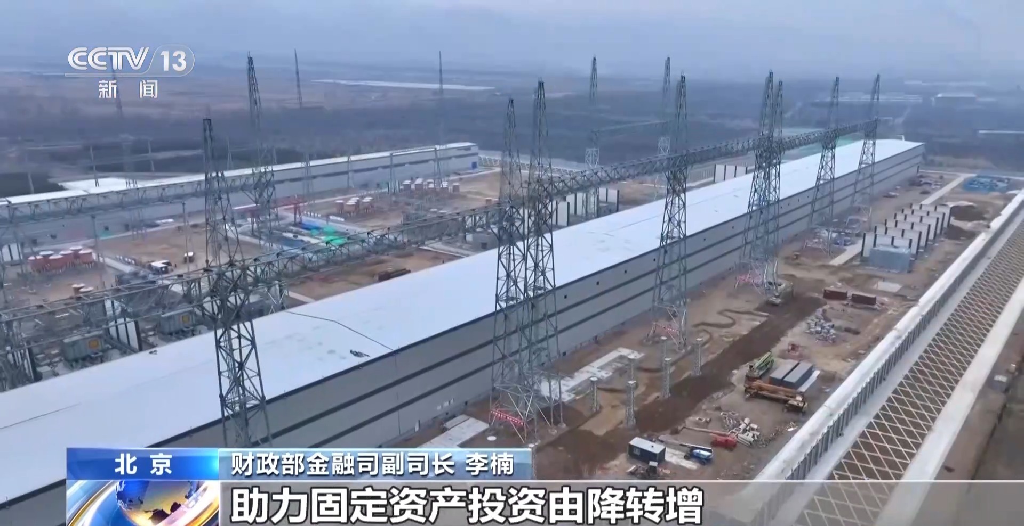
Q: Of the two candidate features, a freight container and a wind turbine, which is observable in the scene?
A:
freight container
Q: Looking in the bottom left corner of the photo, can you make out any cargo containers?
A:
No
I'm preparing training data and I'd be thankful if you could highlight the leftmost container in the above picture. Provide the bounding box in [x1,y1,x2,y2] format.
[629,437,665,466]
